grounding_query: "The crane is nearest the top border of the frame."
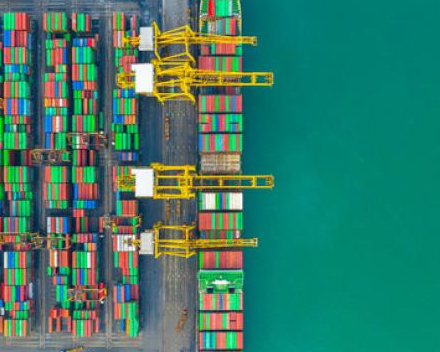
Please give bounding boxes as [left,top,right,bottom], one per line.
[123,24,257,68]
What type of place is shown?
port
